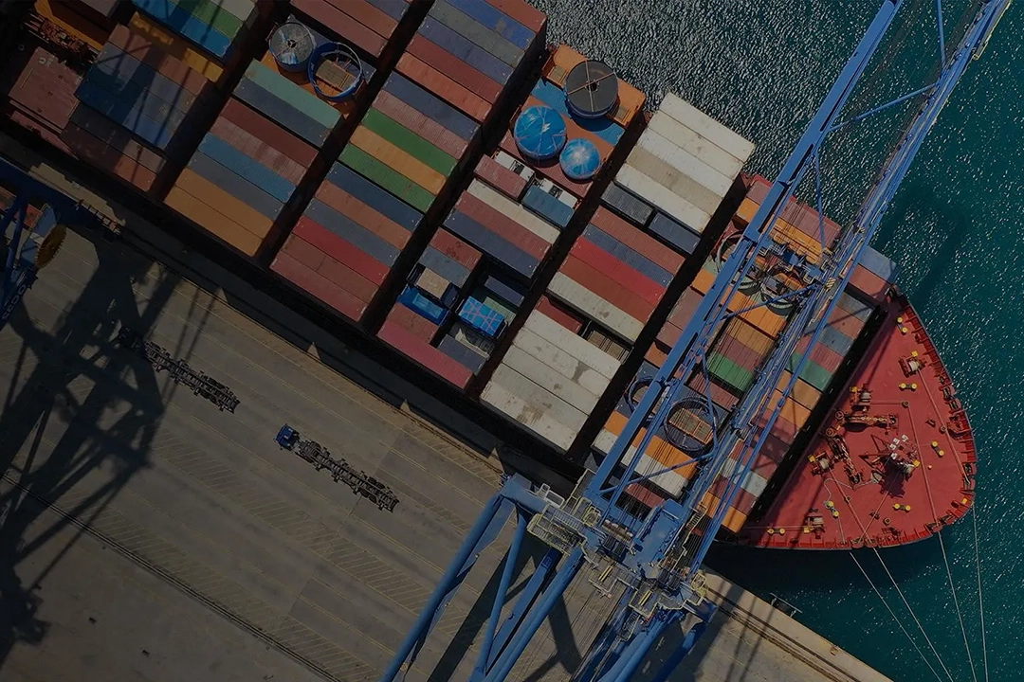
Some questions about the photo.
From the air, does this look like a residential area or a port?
port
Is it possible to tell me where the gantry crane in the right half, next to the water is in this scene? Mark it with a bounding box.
[381,0,1017,682]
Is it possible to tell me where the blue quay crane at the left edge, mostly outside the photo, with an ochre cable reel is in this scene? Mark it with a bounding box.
[0,151,157,329]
